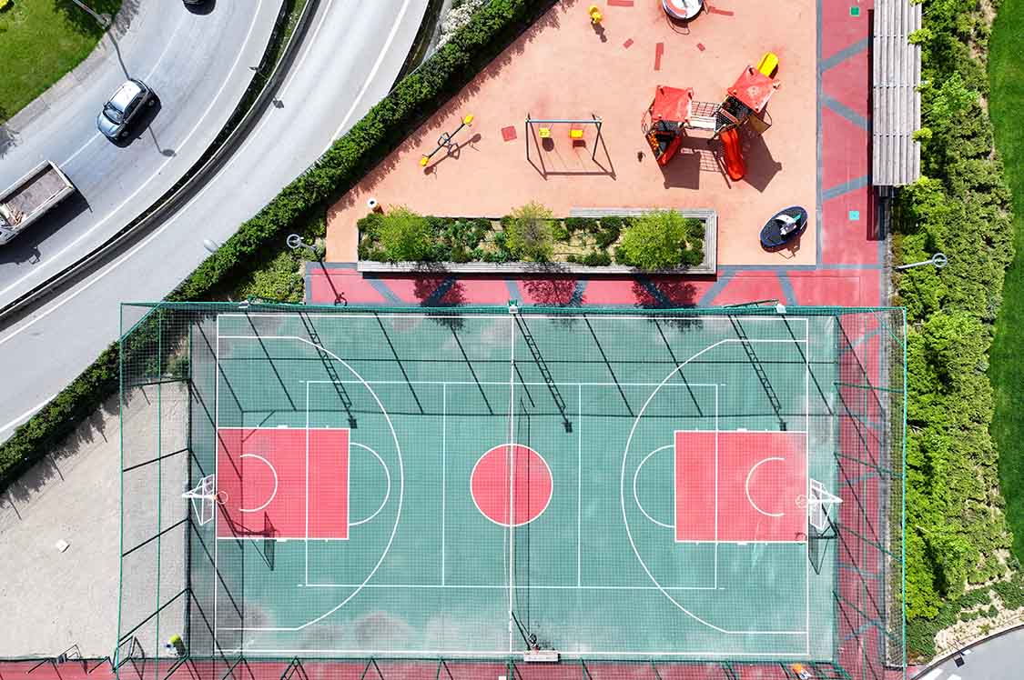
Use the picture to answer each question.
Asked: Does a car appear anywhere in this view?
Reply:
Yes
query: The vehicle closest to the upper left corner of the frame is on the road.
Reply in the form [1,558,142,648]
[99,77,157,139]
